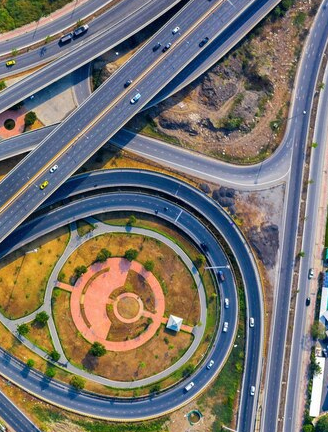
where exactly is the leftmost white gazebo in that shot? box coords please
[164,315,182,332]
